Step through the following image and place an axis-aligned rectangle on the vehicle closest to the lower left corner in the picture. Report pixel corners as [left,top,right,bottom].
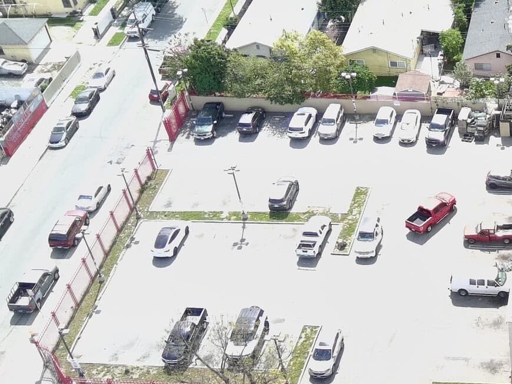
[0,264,66,316]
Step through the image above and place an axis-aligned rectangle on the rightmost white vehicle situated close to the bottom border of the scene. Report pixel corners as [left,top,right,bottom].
[309,329,351,378]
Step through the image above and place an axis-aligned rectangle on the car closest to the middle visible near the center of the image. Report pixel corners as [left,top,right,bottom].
[267,178,301,213]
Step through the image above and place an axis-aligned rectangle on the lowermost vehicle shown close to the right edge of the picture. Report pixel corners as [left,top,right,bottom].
[449,269,511,302]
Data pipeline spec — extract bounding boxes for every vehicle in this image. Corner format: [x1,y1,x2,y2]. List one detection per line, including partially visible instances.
[354,211,384,258]
[309,329,351,378]
[398,113,420,142]
[373,109,395,139]
[124,0,154,31]
[47,117,84,148]
[43,210,98,249]
[0,58,33,78]
[0,264,66,316]
[319,103,343,139]
[161,305,212,363]
[483,168,512,189]
[405,194,462,234]
[239,108,265,135]
[449,269,511,302]
[88,66,120,92]
[292,215,334,259]
[72,179,119,213]
[148,224,194,262]
[427,107,454,143]
[71,83,104,115]
[461,220,512,247]
[228,303,269,359]
[194,104,223,139]
[290,110,316,138]
[267,178,301,213]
